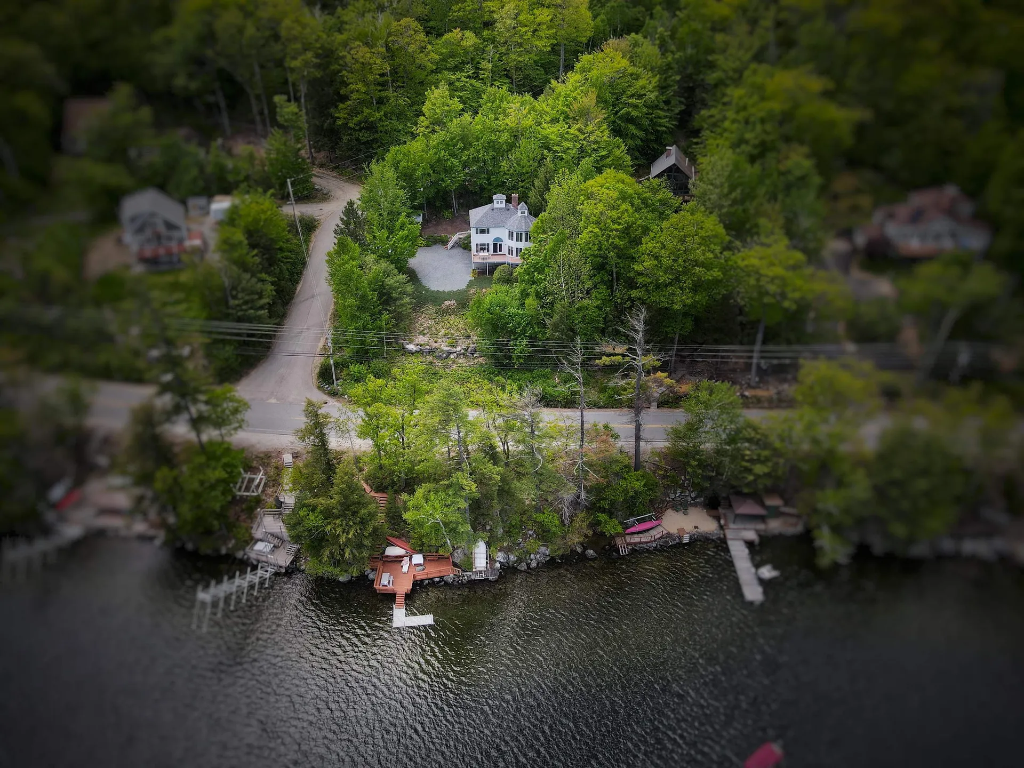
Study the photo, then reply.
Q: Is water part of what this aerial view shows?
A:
Yes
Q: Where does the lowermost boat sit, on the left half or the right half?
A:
right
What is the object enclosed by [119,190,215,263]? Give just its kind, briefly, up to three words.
house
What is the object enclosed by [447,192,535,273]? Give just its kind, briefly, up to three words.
house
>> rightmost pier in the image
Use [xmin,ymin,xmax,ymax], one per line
[727,538,762,604]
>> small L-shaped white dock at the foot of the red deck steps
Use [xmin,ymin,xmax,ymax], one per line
[393,603,434,628]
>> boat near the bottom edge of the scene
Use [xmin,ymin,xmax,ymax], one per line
[740,744,781,768]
